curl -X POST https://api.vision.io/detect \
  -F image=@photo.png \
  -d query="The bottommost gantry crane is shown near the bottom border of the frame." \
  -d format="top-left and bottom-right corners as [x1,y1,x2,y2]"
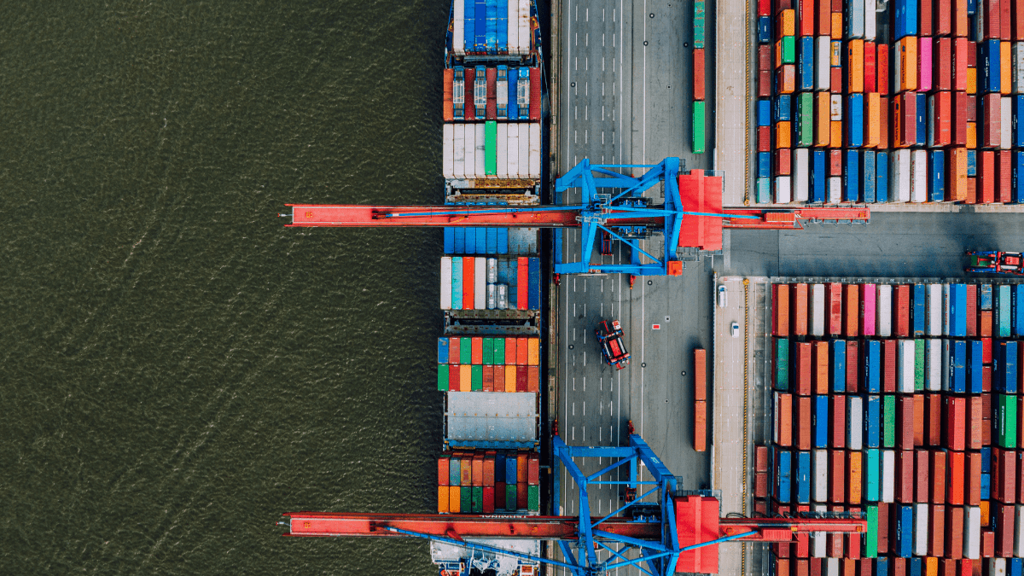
[272,418,869,576]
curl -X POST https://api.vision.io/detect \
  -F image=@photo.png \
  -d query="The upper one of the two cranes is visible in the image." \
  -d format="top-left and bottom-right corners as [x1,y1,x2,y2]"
[273,154,873,287]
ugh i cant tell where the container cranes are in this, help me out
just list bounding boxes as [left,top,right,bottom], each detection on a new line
[273,154,873,287]
[272,418,869,576]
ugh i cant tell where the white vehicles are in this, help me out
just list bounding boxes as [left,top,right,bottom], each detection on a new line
[717,284,728,306]
[731,321,740,338]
